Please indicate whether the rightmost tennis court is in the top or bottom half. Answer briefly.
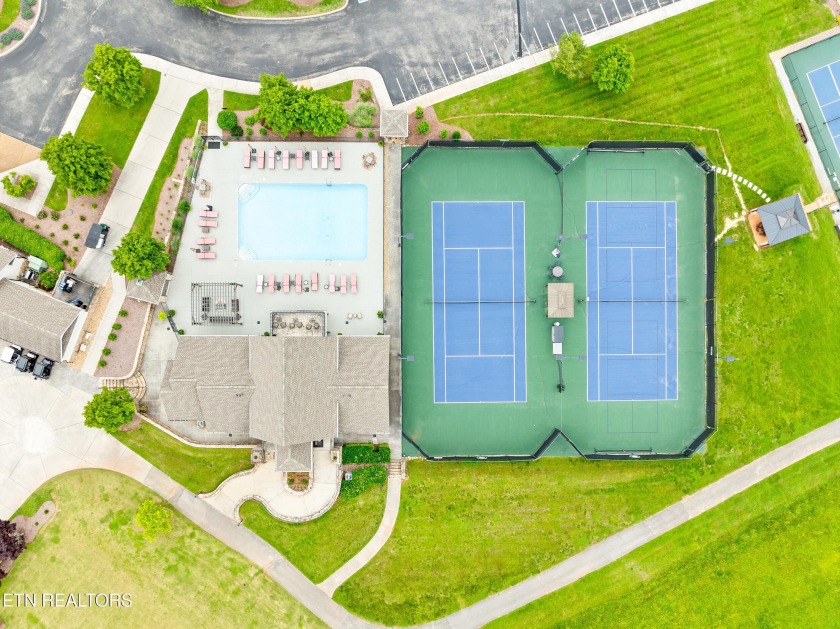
top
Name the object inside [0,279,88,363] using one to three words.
barn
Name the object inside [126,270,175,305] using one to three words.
building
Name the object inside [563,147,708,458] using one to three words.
tennis court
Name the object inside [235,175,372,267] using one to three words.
swimming pool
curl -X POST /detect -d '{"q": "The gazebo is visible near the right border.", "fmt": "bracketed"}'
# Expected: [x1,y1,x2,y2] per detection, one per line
[747,194,810,247]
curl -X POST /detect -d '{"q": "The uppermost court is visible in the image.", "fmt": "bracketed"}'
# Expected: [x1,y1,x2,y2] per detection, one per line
[783,34,840,222]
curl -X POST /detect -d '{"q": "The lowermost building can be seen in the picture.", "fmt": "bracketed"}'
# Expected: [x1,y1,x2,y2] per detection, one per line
[160,335,390,473]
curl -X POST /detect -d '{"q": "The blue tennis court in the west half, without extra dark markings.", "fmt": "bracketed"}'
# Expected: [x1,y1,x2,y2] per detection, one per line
[403,147,563,458]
